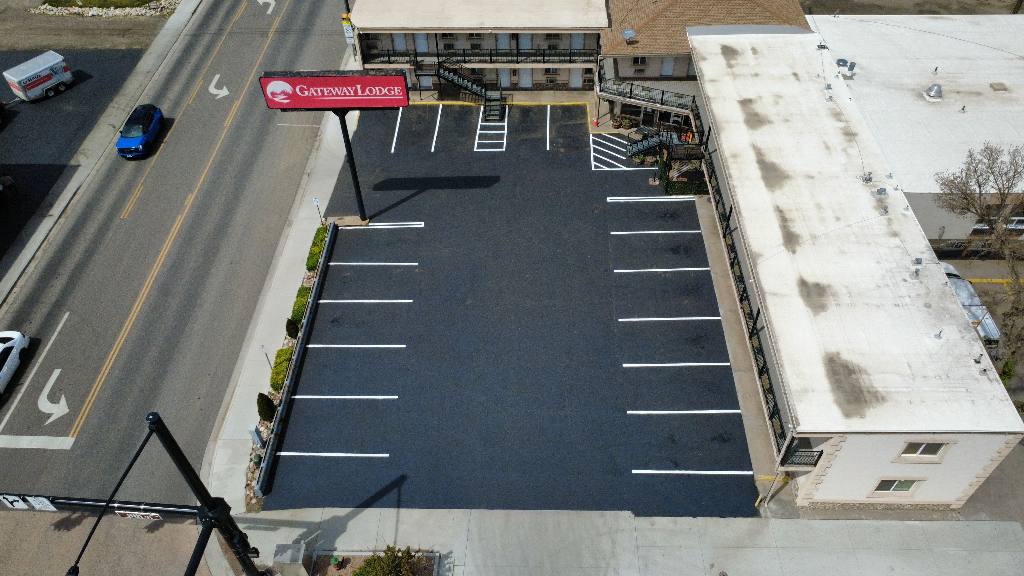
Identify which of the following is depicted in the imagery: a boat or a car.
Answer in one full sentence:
Visible in the photo is a car.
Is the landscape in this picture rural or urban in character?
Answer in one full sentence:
It looks urban.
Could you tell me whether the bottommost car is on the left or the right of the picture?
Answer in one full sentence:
You can find the bottommost car on the left side of the picture.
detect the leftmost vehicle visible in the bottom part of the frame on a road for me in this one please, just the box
[0,334,27,401]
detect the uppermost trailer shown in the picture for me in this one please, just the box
[3,53,71,104]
